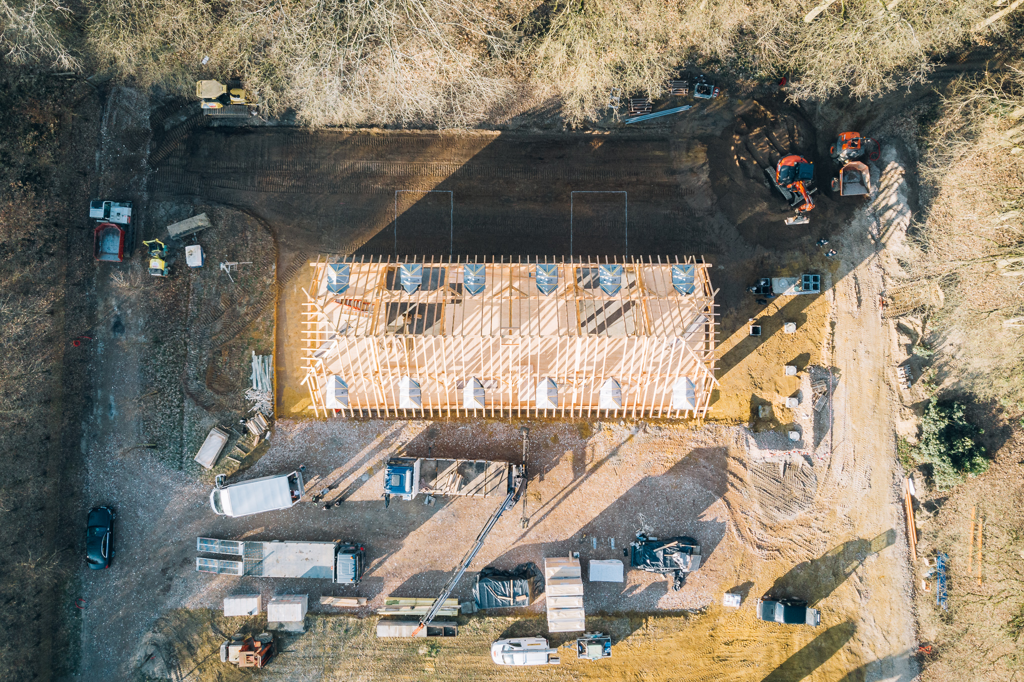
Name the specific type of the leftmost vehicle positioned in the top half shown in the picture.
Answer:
truck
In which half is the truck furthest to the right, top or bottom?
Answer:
top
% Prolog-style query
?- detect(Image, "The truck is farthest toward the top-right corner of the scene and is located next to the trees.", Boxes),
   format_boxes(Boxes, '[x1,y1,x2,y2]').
[828,131,875,194]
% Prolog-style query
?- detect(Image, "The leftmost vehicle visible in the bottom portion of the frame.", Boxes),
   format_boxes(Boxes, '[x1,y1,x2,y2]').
[83,504,120,569]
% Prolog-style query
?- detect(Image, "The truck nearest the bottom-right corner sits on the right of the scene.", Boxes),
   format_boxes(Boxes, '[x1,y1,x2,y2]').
[750,590,824,628]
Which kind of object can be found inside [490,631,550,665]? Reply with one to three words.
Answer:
van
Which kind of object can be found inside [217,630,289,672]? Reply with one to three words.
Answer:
work vehicle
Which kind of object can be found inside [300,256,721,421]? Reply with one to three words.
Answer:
house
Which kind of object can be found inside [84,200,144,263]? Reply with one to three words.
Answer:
truck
